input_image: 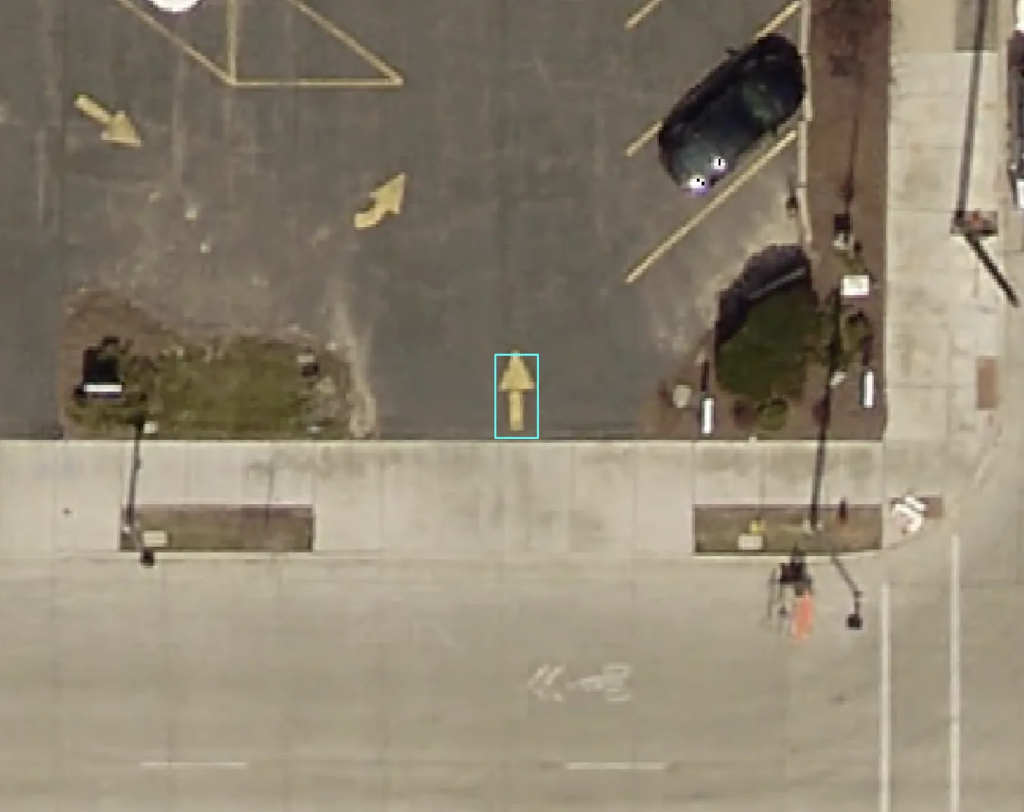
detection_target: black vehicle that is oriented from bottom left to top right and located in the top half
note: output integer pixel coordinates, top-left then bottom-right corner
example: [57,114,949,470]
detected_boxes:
[661,51,809,196]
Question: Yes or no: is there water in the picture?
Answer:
No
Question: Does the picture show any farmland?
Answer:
No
